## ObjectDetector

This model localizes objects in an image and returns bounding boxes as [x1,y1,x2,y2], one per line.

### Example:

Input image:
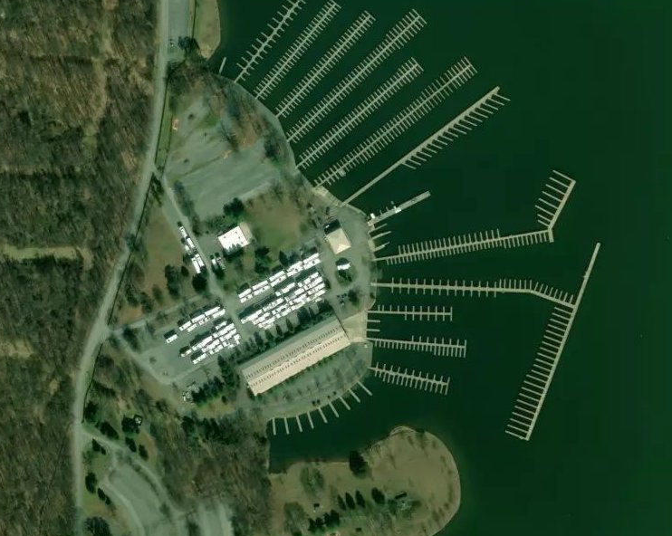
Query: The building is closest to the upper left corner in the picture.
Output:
[220,223,255,252]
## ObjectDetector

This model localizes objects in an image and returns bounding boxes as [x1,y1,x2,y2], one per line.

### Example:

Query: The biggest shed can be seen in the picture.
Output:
[239,316,350,395]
